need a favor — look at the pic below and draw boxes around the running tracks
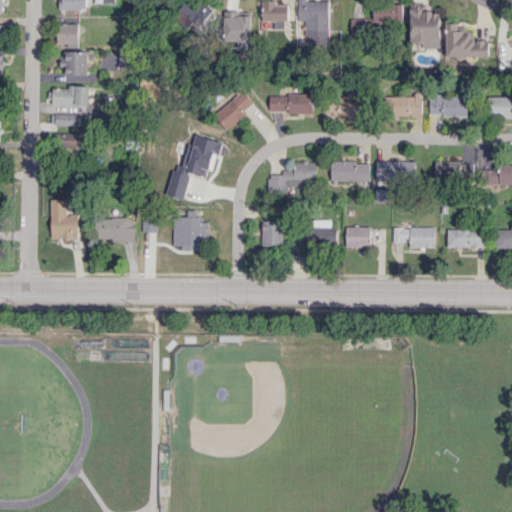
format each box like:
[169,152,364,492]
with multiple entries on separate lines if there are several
[0,338,91,508]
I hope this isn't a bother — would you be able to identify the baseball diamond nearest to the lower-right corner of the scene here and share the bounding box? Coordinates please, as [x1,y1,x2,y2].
[170,340,418,512]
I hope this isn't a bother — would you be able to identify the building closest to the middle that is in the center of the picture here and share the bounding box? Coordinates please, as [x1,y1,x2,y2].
[261,221,288,246]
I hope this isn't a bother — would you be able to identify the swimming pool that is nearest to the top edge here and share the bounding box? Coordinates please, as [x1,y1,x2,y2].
[414,50,444,68]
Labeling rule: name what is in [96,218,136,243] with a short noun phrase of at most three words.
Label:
house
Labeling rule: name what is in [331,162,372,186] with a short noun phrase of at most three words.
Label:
house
